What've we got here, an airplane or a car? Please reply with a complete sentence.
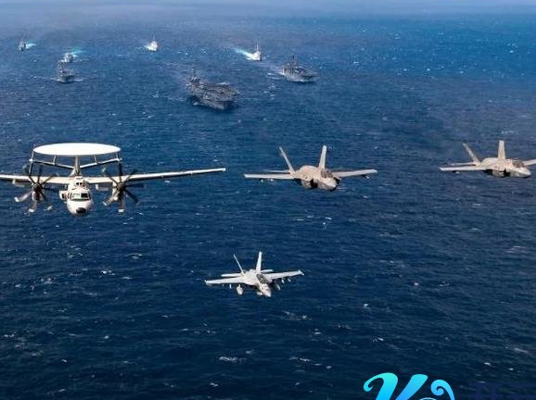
It is an airplane that can be seen here.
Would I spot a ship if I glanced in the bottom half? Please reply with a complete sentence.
No, there's no ship to be seen in the bottom half.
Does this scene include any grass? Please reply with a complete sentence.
No, there is no grass in the image.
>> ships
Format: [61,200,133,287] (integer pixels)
[185,69,237,111]
[245,48,261,60]
[146,38,156,49]
[64,47,73,62]
[57,55,73,82]
[278,55,321,82]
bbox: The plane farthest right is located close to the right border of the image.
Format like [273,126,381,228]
[434,140,536,183]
